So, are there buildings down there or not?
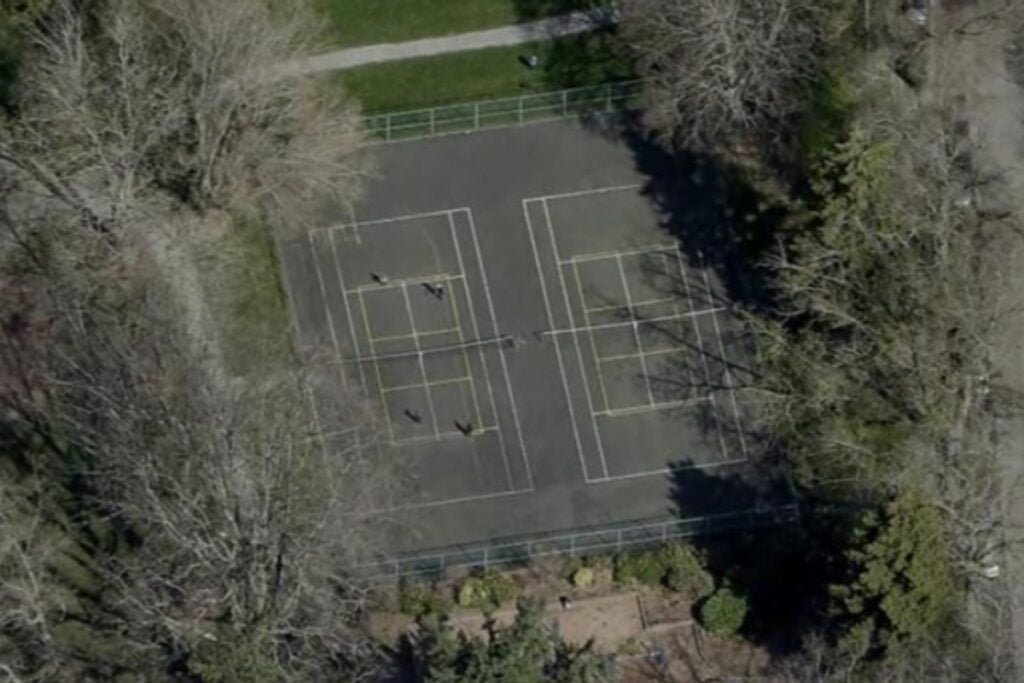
No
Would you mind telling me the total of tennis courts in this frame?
two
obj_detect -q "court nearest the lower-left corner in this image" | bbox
[302,193,542,526]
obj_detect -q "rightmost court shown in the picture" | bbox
[514,163,758,498]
